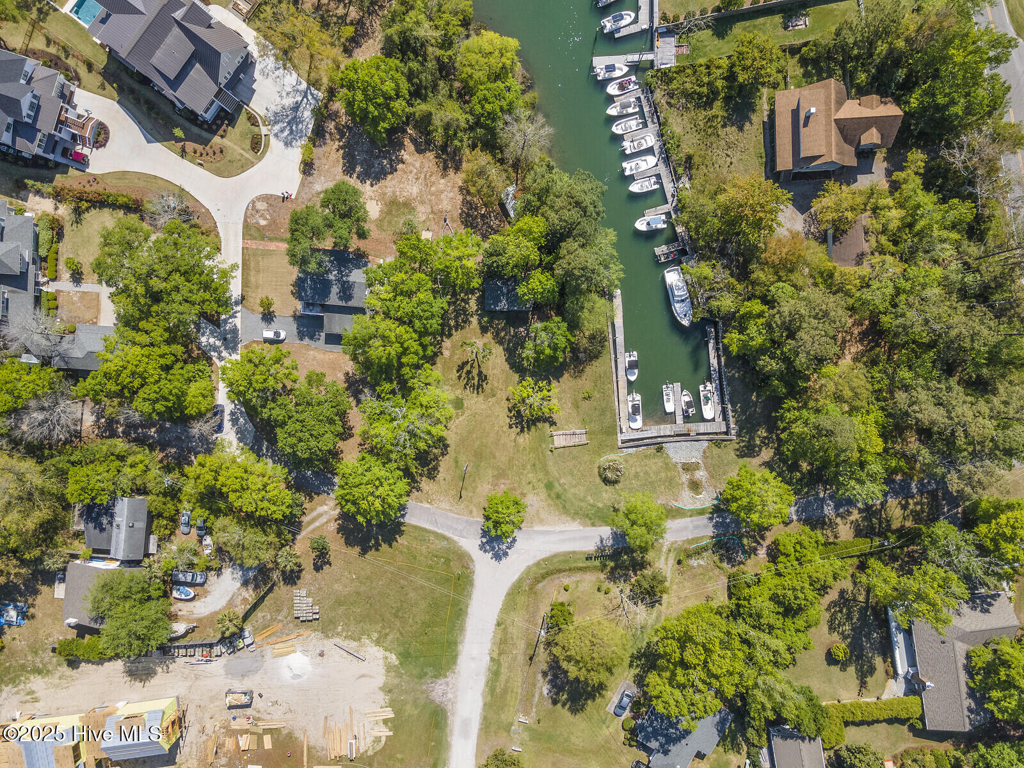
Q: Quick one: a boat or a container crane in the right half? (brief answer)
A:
boat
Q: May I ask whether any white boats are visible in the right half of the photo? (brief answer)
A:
Yes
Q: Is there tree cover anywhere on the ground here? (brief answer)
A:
Yes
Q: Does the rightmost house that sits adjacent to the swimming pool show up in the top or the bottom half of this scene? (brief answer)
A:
top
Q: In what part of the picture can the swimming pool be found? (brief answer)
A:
top left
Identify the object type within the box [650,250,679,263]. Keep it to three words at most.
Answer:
boat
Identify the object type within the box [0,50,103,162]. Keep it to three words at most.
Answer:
house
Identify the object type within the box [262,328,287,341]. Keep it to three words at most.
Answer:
vehicle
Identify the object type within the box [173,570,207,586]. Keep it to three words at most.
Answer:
vehicle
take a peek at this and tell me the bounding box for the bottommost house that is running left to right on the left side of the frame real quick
[0,694,191,768]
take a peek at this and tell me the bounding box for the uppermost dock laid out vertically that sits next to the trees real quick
[613,87,693,256]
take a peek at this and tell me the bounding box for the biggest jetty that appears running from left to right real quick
[621,421,727,440]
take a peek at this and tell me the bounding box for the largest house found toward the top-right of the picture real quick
[769,79,904,183]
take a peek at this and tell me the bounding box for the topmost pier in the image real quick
[615,0,652,39]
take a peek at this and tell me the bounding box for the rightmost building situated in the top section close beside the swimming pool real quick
[87,0,257,128]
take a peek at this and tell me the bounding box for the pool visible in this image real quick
[66,0,103,28]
